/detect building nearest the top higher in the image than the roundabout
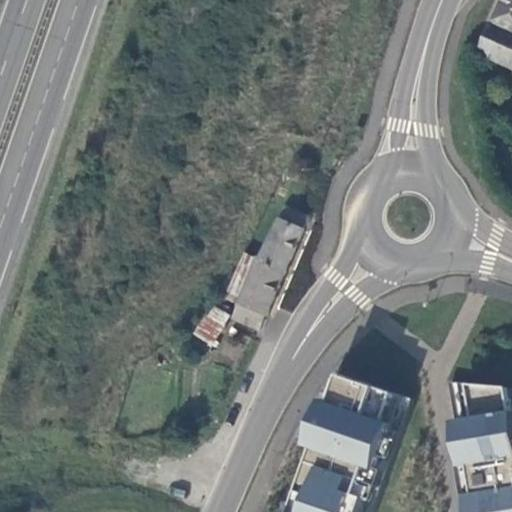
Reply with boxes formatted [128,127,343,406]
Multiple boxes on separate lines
[478,27,512,70]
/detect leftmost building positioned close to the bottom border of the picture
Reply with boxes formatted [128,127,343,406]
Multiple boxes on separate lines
[282,372,416,512]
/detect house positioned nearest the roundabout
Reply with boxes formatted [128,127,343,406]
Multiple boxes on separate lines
[225,208,318,332]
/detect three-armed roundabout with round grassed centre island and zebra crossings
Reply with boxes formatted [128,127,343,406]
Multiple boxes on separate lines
[324,117,508,311]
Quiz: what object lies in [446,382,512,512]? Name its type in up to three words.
building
